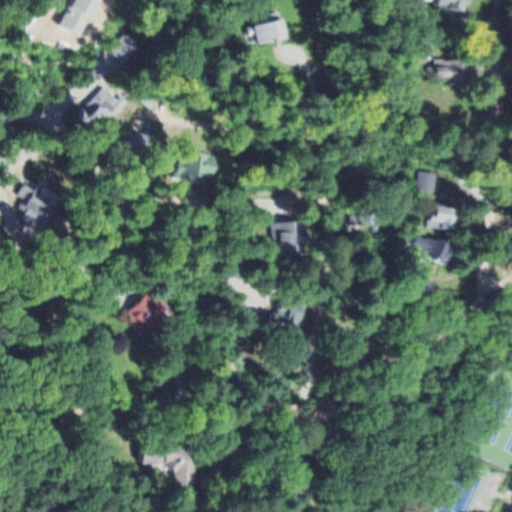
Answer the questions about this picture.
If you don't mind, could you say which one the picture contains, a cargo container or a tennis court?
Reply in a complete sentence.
Looking from above, you can make out a tennis court.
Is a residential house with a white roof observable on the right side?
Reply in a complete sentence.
Yes, on the right side there is a residential house with a white roof.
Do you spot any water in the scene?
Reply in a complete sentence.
No, the picture contains no water.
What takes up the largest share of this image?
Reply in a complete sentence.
For the most part, this view shows trees.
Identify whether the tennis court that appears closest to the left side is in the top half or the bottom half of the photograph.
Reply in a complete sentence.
You can find the tennis court that appears closest to the left side in the bottom half.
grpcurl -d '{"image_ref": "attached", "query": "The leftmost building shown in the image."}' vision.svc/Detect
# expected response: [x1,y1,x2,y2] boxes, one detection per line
[15,182,50,233]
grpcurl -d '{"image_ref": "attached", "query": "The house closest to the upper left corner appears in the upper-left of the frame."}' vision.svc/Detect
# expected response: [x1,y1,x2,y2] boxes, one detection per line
[58,0,104,42]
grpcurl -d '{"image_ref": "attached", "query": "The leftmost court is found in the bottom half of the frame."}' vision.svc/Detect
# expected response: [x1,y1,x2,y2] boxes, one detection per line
[444,474,484,512]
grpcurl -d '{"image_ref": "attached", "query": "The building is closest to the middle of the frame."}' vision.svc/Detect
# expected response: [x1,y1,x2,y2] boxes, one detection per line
[271,222,302,252]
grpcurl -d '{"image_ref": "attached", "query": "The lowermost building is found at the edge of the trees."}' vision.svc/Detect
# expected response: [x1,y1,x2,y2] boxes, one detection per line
[143,449,200,486]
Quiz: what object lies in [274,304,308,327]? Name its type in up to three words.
house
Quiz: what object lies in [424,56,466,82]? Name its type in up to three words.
house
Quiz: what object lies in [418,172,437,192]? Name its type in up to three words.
building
